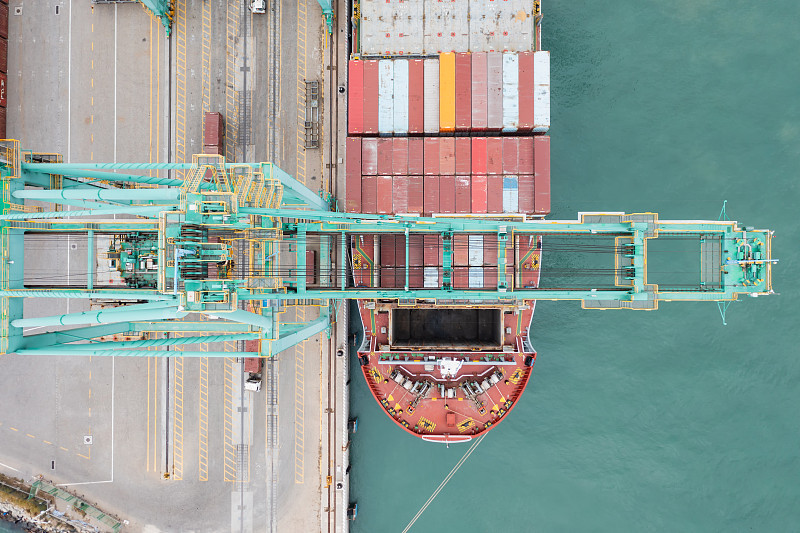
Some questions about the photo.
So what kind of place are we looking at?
port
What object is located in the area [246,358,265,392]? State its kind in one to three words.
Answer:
vehicle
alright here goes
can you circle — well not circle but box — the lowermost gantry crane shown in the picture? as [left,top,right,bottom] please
[0,140,779,358]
